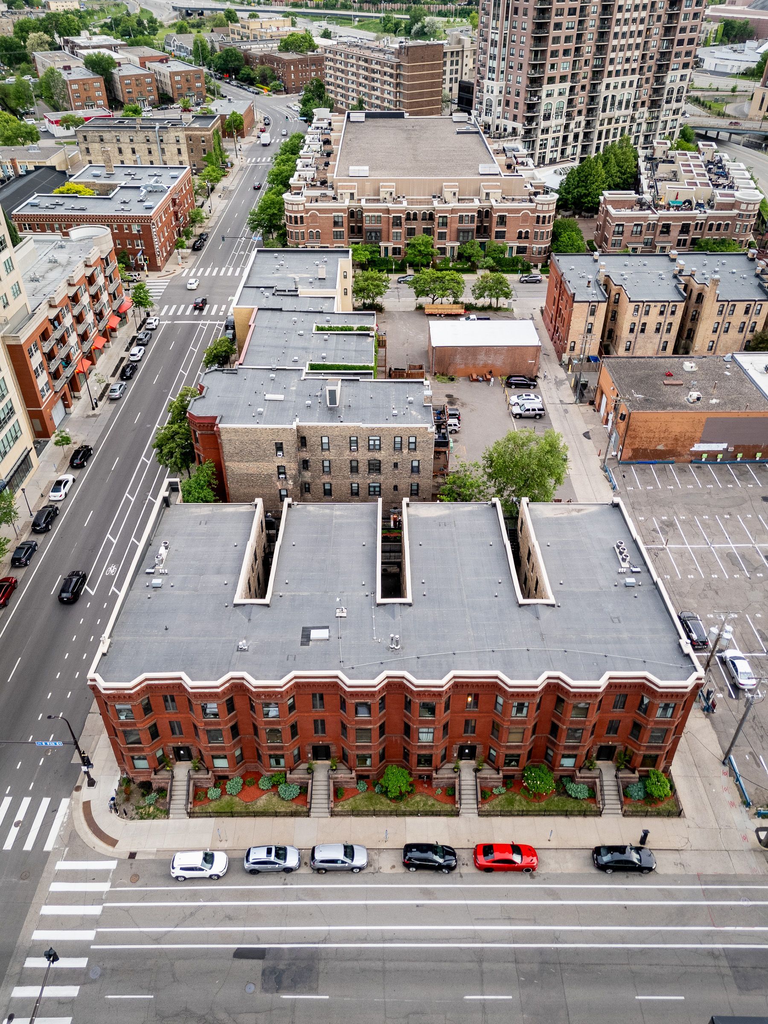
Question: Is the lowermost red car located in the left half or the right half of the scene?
right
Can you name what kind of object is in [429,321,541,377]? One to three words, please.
building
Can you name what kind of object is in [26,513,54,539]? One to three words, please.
car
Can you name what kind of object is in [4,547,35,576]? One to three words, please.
car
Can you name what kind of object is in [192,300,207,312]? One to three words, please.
vehicle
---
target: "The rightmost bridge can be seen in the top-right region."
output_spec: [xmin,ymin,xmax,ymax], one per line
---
[687,111,768,147]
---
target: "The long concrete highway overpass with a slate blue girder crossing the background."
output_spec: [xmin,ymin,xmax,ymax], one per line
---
[172,0,452,26]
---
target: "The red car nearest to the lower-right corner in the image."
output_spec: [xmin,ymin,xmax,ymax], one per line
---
[470,844,538,877]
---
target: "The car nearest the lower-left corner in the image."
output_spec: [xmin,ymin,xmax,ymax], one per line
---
[169,847,233,881]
